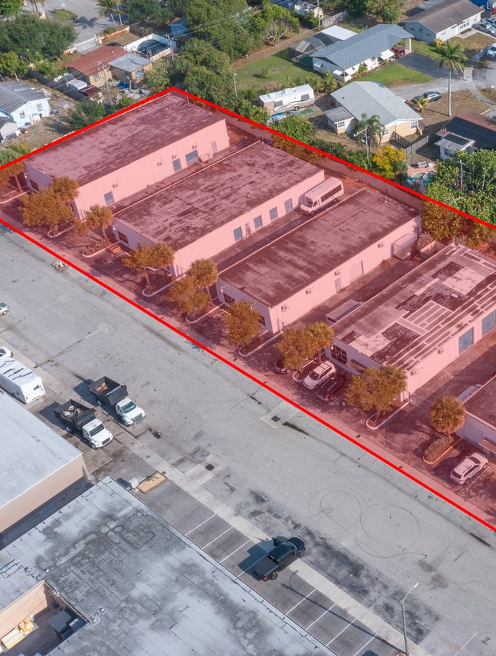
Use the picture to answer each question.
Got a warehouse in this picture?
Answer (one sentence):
Yes, the picture does show a warehouse.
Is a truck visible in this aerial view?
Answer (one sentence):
Yes, the frame does contain a truck.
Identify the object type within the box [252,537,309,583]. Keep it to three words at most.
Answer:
truck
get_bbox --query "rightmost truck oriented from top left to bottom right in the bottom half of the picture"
[83,375,144,427]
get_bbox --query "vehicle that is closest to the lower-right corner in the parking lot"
[450,452,490,485]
